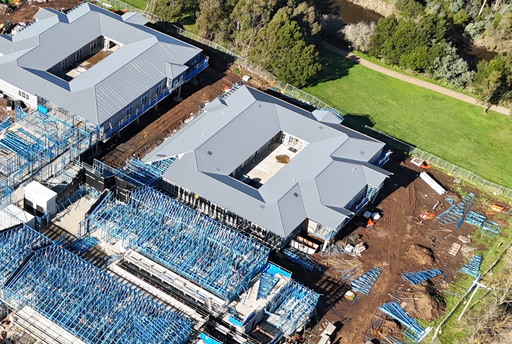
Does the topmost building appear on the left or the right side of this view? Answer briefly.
left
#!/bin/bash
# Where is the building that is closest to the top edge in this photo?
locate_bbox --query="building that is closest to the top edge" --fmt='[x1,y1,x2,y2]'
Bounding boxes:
[0,6,208,150]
